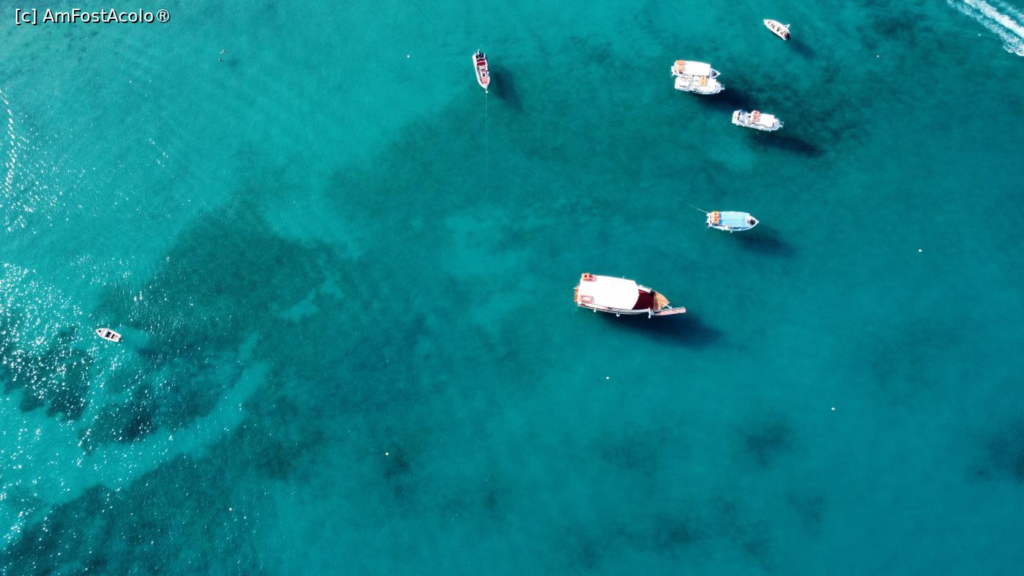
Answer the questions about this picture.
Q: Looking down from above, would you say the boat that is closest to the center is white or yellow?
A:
white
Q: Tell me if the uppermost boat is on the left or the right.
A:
right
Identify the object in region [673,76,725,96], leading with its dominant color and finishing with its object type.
white boat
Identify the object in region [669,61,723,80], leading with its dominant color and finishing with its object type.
white boat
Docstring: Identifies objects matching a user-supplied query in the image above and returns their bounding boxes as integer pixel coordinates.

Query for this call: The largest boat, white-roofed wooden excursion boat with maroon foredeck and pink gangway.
[574,275,686,318]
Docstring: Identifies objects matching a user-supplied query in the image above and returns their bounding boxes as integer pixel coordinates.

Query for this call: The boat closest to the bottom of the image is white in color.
[95,328,124,343]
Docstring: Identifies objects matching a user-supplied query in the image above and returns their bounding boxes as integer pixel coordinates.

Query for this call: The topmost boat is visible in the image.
[764,19,790,42]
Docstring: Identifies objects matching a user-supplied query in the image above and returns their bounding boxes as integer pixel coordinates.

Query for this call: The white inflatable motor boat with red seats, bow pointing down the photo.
[473,47,490,89]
